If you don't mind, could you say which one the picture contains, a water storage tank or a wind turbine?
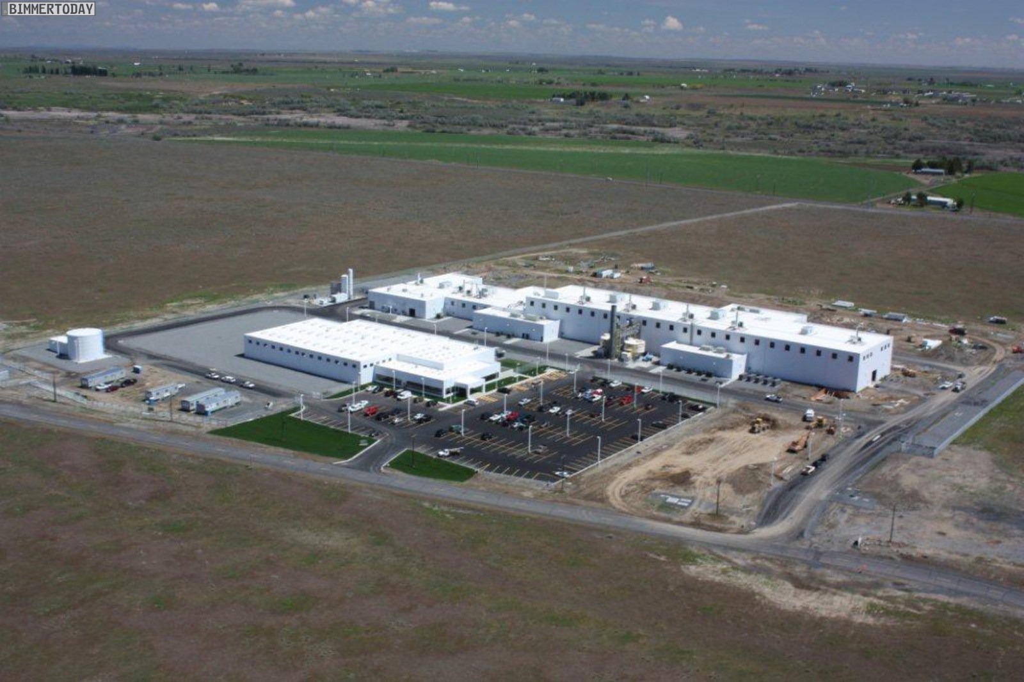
water storage tank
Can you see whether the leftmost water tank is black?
No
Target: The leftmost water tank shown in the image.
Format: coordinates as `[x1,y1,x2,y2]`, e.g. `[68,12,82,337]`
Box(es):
[64,327,108,361]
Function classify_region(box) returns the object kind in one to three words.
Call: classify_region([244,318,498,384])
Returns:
building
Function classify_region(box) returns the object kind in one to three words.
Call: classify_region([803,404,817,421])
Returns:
vehicle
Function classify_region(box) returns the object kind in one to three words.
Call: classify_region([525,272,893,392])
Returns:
building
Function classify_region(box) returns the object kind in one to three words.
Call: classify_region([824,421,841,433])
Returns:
vehicle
